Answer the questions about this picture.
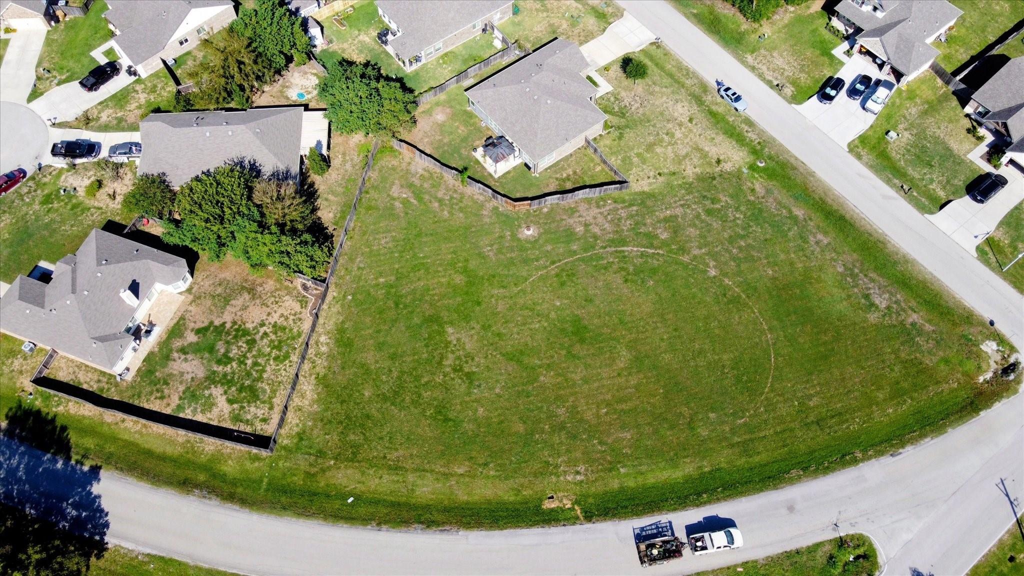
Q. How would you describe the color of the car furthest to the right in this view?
black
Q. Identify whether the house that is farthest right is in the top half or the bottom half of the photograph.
top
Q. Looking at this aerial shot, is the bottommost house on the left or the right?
left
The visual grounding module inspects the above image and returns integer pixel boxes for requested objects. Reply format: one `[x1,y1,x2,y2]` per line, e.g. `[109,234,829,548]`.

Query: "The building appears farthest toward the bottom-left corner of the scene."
[0,228,193,374]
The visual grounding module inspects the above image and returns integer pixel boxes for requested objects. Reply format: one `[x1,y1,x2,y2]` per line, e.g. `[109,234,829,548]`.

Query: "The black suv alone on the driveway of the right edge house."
[971,173,1009,204]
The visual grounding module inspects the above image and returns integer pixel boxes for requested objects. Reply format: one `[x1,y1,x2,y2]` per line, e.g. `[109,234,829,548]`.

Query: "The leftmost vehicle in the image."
[0,167,31,194]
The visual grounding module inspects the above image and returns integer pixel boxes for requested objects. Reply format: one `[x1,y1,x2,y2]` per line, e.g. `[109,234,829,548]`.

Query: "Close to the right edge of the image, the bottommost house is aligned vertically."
[964,53,1024,183]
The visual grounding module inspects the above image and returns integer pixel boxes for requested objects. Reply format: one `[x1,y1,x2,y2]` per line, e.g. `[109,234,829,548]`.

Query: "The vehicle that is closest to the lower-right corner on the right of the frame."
[685,526,747,557]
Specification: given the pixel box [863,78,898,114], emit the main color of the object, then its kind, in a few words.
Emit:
white truck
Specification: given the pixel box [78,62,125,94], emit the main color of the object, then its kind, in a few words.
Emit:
black truck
